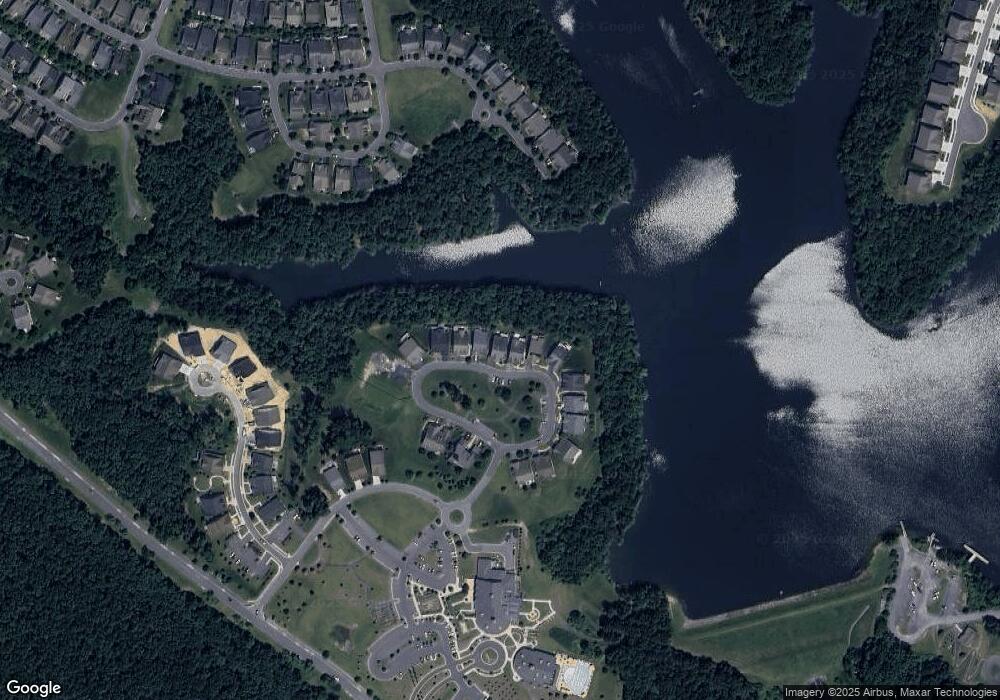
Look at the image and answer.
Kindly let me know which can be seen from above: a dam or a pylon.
dam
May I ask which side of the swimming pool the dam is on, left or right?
on the right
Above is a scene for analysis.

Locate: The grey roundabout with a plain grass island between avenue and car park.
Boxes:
[440,500,474,533]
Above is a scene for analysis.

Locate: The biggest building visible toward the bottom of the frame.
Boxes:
[475,556,521,636]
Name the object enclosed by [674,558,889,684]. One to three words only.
dam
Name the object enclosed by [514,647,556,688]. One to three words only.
building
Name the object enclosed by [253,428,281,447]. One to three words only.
house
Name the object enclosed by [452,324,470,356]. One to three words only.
house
